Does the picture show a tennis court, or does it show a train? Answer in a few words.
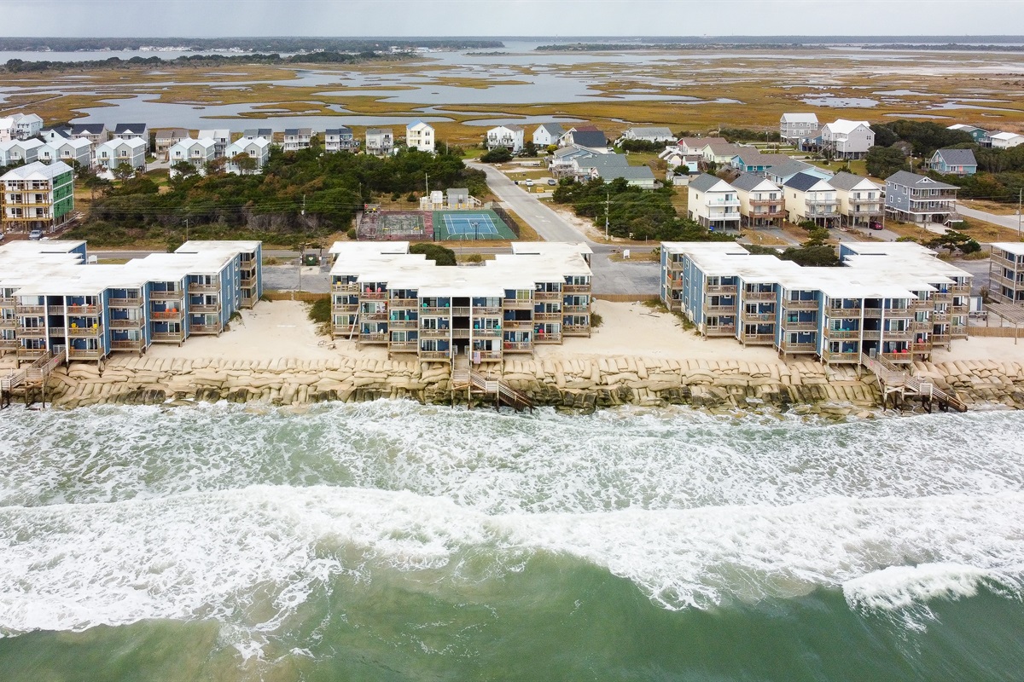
tennis court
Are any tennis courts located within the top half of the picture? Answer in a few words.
Yes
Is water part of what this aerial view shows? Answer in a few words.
Yes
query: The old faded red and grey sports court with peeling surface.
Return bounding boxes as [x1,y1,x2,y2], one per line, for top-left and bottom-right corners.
[358,210,433,240]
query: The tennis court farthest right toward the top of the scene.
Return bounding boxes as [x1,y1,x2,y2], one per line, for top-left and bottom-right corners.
[434,209,519,240]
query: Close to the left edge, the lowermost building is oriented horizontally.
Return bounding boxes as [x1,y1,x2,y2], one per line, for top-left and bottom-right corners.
[0,239,267,371]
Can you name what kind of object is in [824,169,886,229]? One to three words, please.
house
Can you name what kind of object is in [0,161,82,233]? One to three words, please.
house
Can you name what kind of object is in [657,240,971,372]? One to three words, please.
building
